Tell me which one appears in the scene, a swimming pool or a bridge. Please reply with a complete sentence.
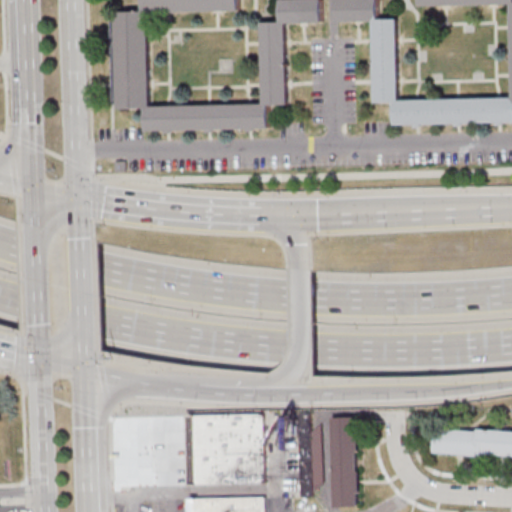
I can see a bridge in this picture.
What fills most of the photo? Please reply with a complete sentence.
Most of the picture is covered by paved ground.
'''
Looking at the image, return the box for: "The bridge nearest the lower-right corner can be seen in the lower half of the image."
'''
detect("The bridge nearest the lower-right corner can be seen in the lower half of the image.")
[269,267,314,376]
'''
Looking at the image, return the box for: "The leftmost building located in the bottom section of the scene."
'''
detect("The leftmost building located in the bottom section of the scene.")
[113,416,188,491]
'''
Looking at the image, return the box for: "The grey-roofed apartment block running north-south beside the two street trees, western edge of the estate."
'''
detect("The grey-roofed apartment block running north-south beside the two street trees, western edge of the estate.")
[110,11,150,108]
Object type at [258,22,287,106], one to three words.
building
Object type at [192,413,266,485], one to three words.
building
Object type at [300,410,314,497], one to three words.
shed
